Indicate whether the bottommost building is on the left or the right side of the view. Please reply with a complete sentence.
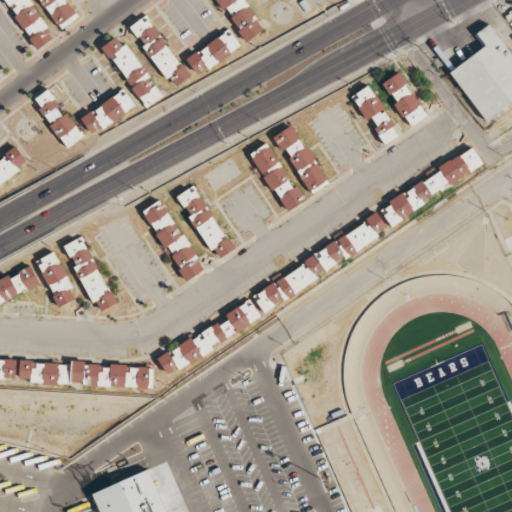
The bottommost building appears in the left half of the scene.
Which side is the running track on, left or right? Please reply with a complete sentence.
The running track sits on the right side.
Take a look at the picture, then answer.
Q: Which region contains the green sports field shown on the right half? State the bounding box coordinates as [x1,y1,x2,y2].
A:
[380,312,512,512]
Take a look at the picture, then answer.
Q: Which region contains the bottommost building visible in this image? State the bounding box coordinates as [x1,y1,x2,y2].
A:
[92,468,168,512]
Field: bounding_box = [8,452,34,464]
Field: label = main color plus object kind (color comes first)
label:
white vehicle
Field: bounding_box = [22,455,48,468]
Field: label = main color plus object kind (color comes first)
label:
white vehicle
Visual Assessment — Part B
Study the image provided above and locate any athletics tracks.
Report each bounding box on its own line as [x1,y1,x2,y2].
[362,294,512,512]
